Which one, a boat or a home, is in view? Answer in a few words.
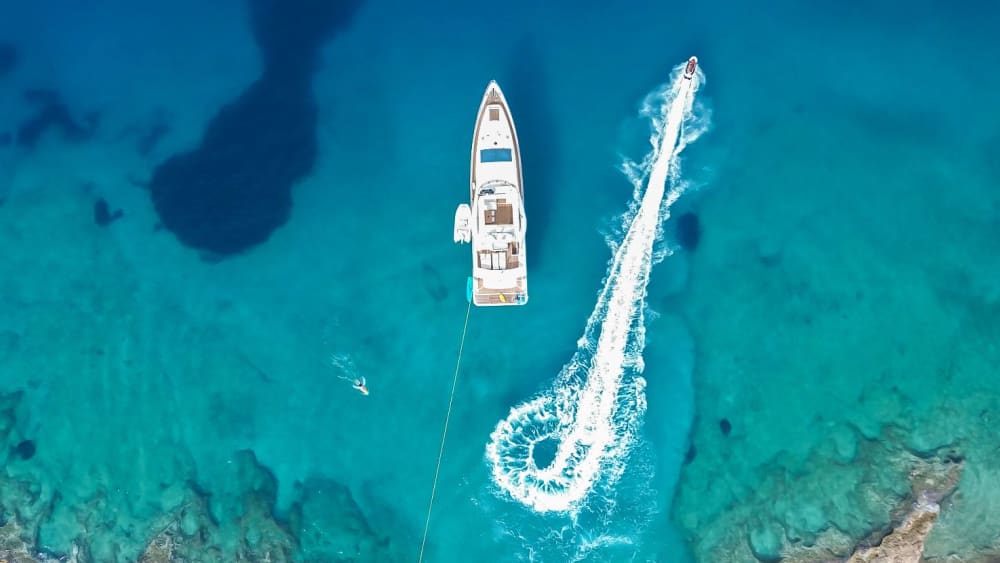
boat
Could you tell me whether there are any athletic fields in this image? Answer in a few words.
No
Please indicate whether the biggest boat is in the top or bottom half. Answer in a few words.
top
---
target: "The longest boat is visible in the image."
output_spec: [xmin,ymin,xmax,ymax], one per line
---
[470,78,527,307]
